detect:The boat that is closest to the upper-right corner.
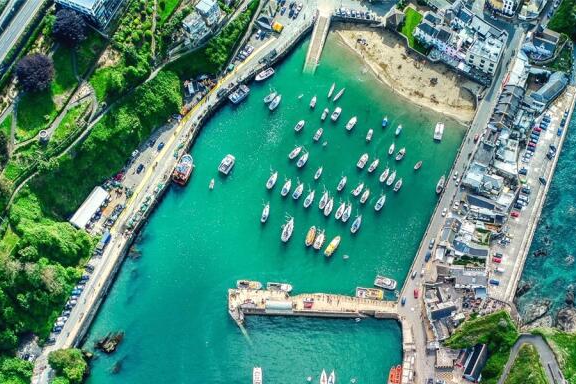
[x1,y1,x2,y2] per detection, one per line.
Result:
[433,121,445,141]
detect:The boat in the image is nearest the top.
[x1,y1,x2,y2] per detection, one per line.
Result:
[257,68,277,83]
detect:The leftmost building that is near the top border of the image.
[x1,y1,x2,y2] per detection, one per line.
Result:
[56,0,122,34]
